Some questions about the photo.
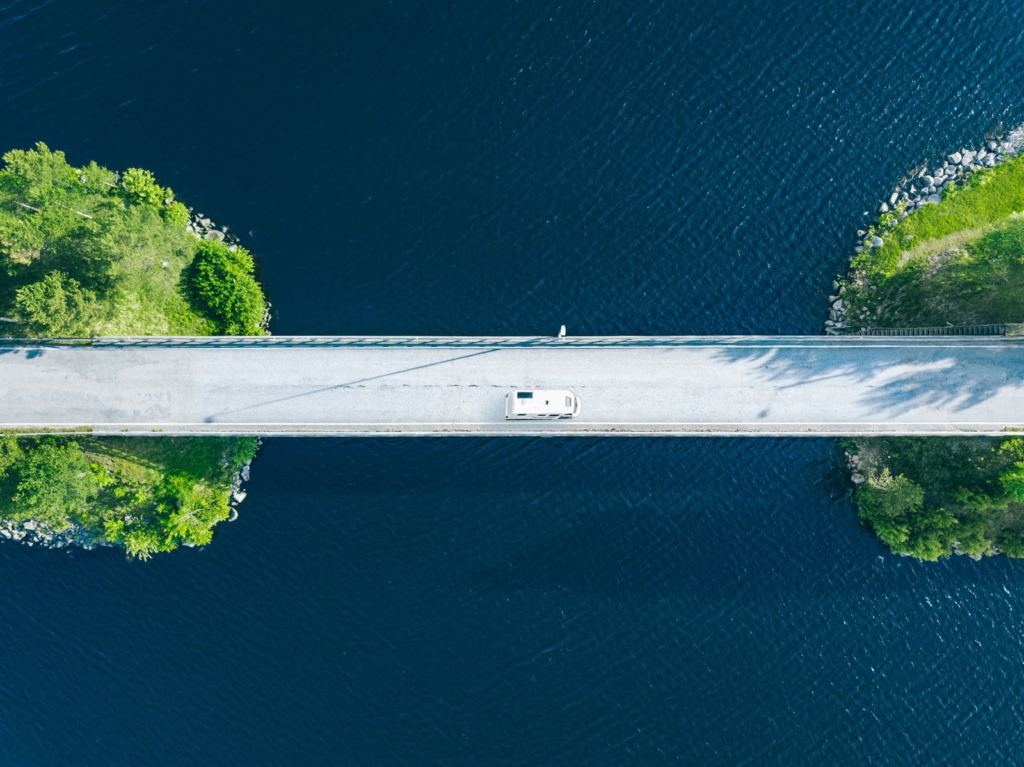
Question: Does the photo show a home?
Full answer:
No, no home is visible in the view.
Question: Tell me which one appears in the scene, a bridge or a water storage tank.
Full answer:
Visible in the photo is a bridge.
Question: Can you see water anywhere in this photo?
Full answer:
Yes, water can be seen from above here.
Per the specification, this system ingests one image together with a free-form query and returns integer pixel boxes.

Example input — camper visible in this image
[505,389,581,418]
